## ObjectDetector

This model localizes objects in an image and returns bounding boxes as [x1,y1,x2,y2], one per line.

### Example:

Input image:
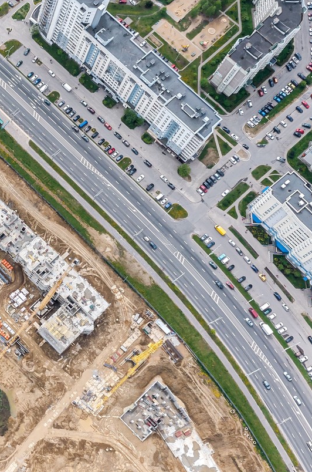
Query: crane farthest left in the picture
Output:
[0,254,87,358]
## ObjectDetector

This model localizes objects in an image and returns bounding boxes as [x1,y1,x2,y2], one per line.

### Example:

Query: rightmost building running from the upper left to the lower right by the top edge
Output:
[75,12,218,158]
